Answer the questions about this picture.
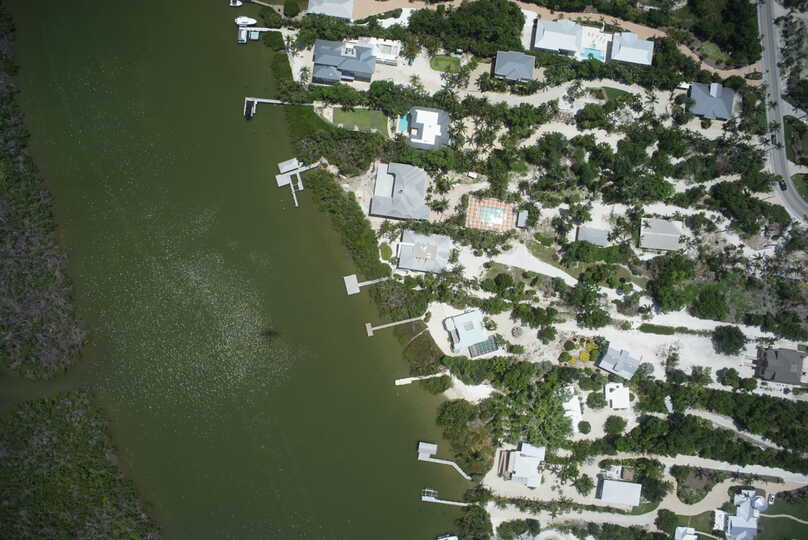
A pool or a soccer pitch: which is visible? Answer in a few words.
pool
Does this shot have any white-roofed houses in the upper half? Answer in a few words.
Yes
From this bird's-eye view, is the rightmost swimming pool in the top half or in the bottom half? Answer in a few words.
top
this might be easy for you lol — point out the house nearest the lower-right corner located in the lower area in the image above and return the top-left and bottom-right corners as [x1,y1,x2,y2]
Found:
[720,489,768,540]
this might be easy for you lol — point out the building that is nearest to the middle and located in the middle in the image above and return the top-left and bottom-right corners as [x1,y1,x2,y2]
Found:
[396,230,449,273]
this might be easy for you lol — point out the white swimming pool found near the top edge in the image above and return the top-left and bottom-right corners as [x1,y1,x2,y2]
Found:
[582,26,613,62]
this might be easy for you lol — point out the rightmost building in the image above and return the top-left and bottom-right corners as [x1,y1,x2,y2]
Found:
[746,348,806,385]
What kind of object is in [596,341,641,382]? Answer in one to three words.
house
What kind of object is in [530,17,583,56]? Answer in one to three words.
house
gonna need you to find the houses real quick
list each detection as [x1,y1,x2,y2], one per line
[442,309,491,350]
[597,465,642,506]
[370,163,432,220]
[312,39,376,86]
[720,489,768,540]
[496,443,546,487]
[396,230,449,273]
[492,51,543,82]
[635,218,685,251]
[562,388,583,433]
[596,341,641,382]
[574,227,609,246]
[404,107,451,152]
[530,17,583,56]
[603,383,633,410]
[746,348,806,385]
[686,81,733,122]
[607,31,655,66]
[671,527,698,540]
